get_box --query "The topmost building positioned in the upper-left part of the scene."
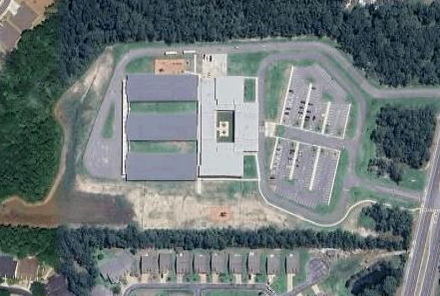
[10,2,36,29]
